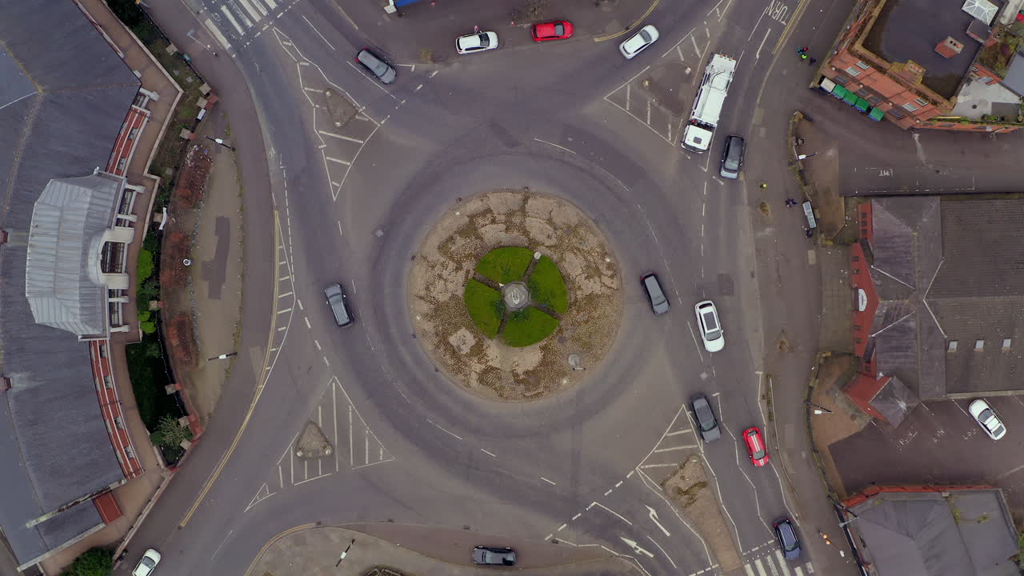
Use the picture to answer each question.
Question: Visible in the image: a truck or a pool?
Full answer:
The one in the frame is a truck.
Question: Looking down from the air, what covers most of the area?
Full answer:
What you mostly see from above here is paved ground.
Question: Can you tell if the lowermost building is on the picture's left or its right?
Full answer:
The lowermost building is on the right side of the image.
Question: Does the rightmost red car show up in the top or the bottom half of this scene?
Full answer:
The bottom half of the photo is where the rightmost red car is.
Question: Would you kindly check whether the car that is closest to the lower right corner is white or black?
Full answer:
From above, the car that is closest to the lower right corner appears white.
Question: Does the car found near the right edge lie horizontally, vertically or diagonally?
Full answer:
In this picture, the car found near the right edge is oriented diagonally.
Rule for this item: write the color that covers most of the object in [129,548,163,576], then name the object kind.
white car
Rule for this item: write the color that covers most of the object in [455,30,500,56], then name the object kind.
white car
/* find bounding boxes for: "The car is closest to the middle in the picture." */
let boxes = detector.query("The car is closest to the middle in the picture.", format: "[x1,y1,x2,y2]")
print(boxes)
[640,272,668,315]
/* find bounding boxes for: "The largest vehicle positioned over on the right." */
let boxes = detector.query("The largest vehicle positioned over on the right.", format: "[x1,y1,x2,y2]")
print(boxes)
[680,51,737,158]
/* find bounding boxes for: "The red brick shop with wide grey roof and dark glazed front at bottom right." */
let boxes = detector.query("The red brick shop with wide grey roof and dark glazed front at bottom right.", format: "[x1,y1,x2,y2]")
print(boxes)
[837,481,1024,576]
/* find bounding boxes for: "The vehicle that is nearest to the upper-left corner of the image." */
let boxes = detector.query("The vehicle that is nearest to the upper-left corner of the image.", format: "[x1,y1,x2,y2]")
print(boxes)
[355,48,397,86]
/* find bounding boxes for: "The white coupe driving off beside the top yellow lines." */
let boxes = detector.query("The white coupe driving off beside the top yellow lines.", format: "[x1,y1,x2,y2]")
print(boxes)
[619,25,660,61]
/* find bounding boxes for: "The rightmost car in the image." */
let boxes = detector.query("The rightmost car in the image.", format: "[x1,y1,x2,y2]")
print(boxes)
[967,398,1008,442]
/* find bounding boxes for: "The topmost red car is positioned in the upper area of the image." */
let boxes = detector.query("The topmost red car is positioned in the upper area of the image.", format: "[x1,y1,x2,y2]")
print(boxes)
[531,20,573,43]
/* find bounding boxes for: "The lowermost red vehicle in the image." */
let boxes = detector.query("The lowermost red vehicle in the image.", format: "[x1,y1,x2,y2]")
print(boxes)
[741,426,768,466]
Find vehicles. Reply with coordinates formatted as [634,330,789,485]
[719,134,743,180]
[772,517,801,561]
[619,25,660,61]
[967,398,1008,442]
[455,30,500,56]
[741,426,768,466]
[355,48,397,86]
[640,272,668,315]
[531,20,573,43]
[690,394,720,442]
[325,283,352,328]
[473,544,516,567]
[680,51,737,158]
[694,300,724,351]
[129,548,163,576]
